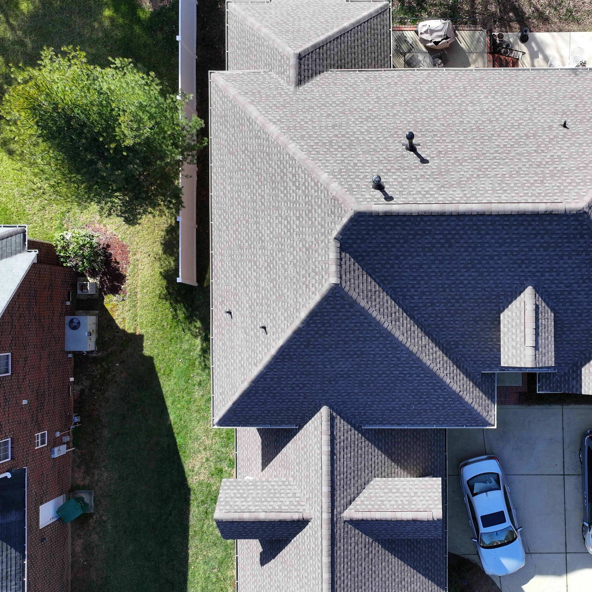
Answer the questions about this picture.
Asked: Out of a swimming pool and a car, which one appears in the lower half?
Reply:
car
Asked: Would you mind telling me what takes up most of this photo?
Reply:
buildings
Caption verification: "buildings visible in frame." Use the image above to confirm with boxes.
[206,0,592,592]
[0,221,75,592]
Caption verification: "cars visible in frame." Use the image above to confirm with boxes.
[460,453,527,577]
[579,431,592,553]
